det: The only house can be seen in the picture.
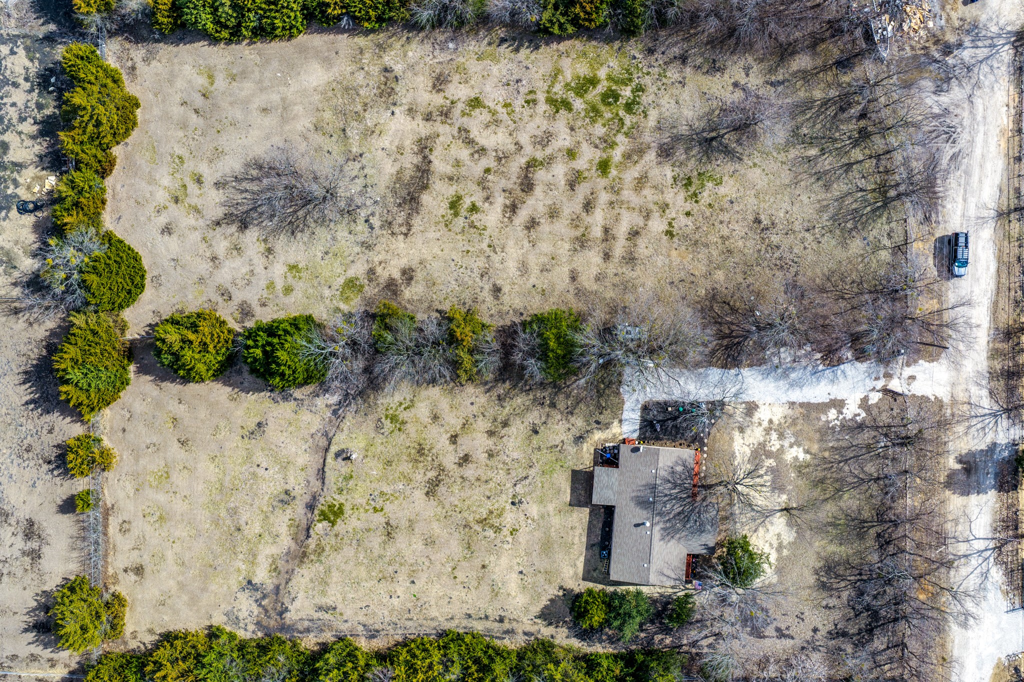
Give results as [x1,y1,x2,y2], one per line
[592,444,718,586]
